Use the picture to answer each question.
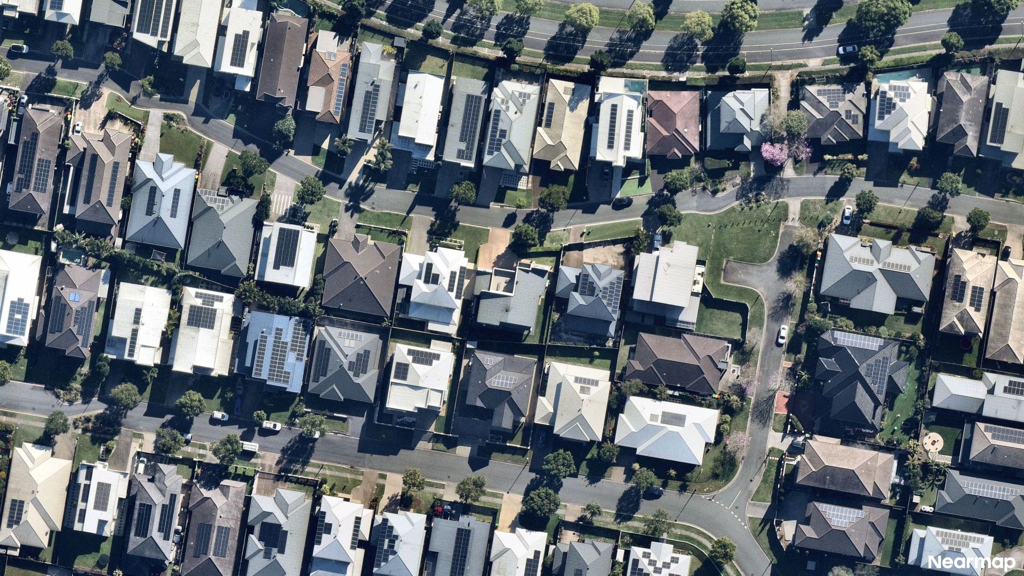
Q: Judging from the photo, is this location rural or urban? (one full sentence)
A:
From above, the setting appears urban.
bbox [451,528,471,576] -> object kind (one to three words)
solar array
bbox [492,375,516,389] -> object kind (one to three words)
solar array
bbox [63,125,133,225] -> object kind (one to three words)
house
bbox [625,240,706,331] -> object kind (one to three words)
house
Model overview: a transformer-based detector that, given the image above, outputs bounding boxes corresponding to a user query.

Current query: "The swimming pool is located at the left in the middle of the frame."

[60,250,85,263]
